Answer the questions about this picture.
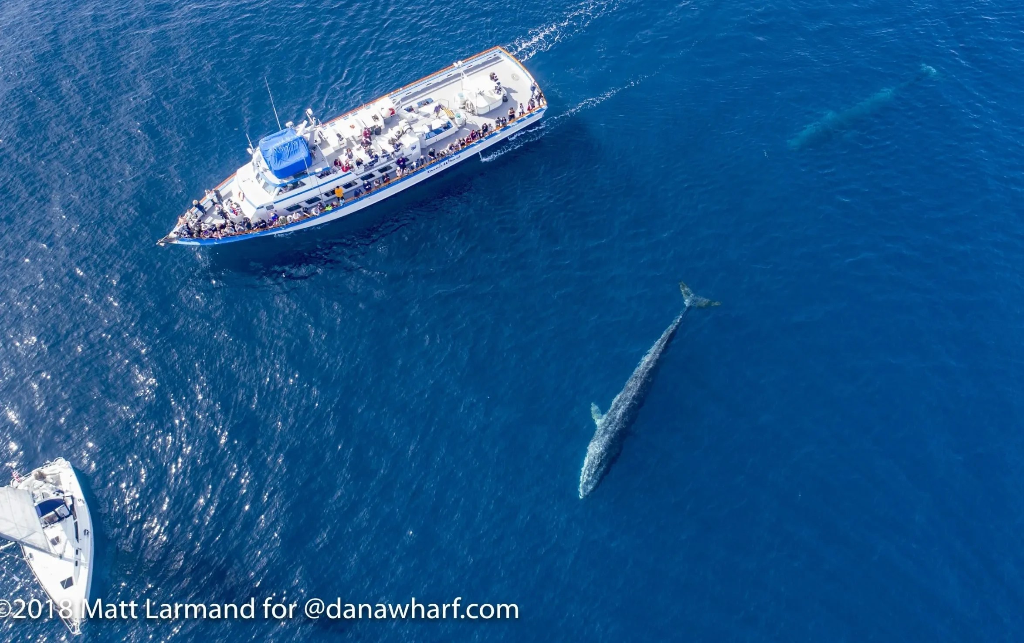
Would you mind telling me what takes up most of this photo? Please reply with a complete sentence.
The scene is dominated by water.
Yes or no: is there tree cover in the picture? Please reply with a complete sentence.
No, the scene doesn't show any tree cover.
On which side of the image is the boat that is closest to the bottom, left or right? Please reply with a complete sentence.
It is on the left.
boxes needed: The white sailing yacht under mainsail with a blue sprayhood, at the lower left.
[0,459,91,634]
